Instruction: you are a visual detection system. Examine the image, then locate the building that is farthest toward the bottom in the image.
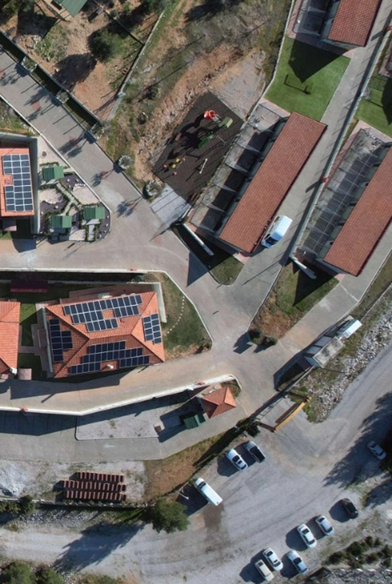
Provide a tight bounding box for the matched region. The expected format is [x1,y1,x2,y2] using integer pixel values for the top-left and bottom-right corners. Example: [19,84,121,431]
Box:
[189,382,237,420]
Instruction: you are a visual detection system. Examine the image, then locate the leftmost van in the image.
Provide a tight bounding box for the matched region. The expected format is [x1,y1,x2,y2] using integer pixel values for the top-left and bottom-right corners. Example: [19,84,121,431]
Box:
[195,476,231,513]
